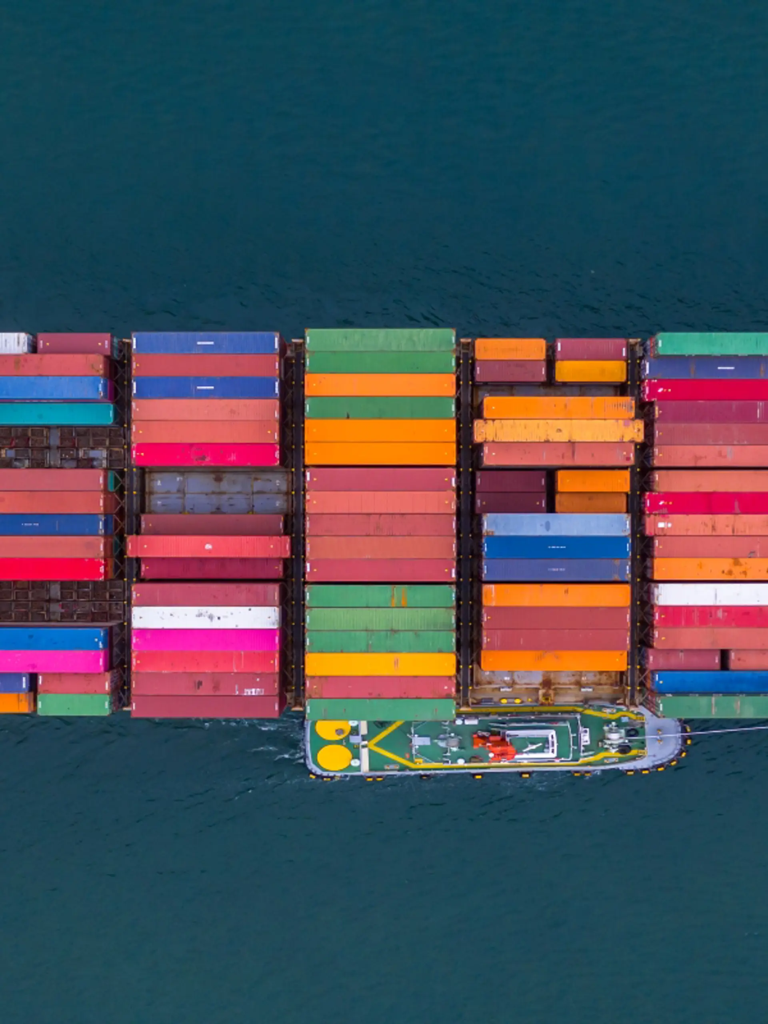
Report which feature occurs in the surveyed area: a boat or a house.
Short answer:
boat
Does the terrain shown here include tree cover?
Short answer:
No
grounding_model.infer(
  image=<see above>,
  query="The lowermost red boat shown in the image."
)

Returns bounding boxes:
[488,746,519,762]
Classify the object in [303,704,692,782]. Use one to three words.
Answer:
boat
